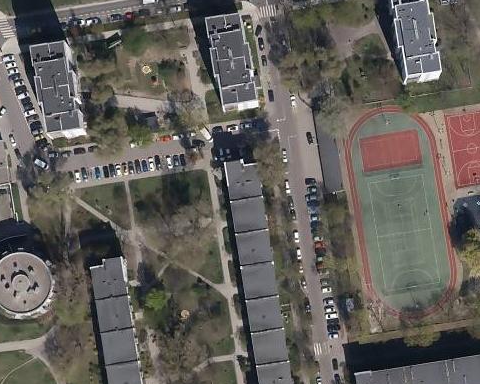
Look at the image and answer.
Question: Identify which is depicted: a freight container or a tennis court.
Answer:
tennis court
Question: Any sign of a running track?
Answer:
Yes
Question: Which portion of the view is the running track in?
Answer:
right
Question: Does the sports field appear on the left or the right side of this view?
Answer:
right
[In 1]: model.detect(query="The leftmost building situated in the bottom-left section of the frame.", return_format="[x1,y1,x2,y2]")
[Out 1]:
[0,251,54,314]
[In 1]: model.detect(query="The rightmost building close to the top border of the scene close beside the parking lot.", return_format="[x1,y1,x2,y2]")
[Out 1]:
[205,13,259,112]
